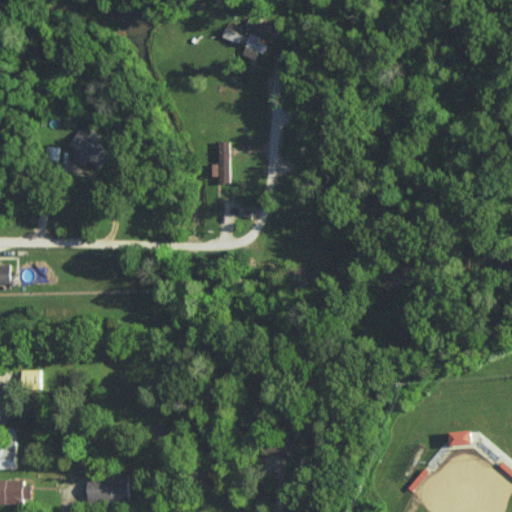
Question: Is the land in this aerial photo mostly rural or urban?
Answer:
rural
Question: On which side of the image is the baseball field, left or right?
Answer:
right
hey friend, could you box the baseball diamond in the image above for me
[372,358,512,512]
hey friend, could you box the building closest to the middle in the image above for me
[210,142,236,183]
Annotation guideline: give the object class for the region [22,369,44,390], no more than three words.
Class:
barn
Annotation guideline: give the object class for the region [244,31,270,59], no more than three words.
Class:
house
